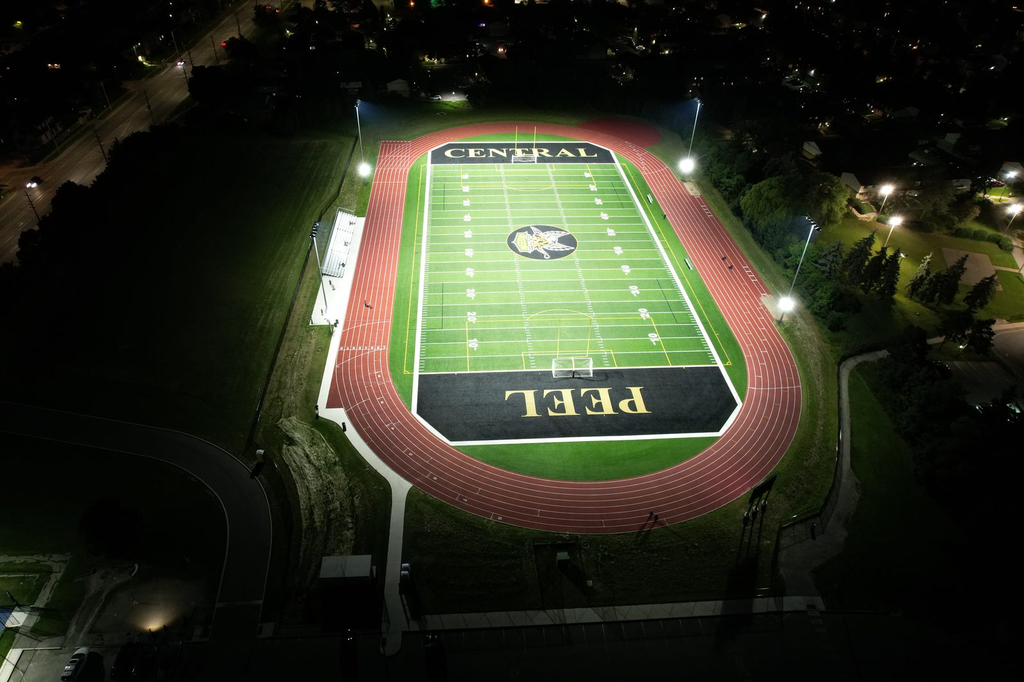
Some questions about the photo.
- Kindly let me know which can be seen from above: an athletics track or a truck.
athletics track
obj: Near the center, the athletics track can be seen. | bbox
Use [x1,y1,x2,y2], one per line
[335,122,806,539]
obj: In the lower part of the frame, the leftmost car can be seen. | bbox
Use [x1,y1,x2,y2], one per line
[50,642,96,682]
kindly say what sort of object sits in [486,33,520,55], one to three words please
house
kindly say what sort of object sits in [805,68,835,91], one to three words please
house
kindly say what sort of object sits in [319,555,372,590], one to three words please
shed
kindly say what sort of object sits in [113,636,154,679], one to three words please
car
